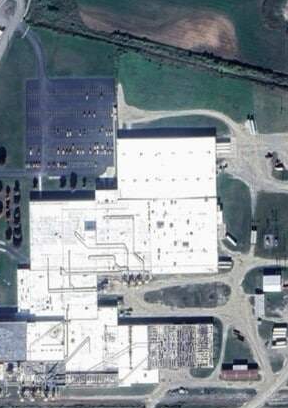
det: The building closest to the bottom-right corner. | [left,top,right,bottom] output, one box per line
[222,363,258,381]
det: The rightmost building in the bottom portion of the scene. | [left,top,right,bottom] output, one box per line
[263,275,281,292]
